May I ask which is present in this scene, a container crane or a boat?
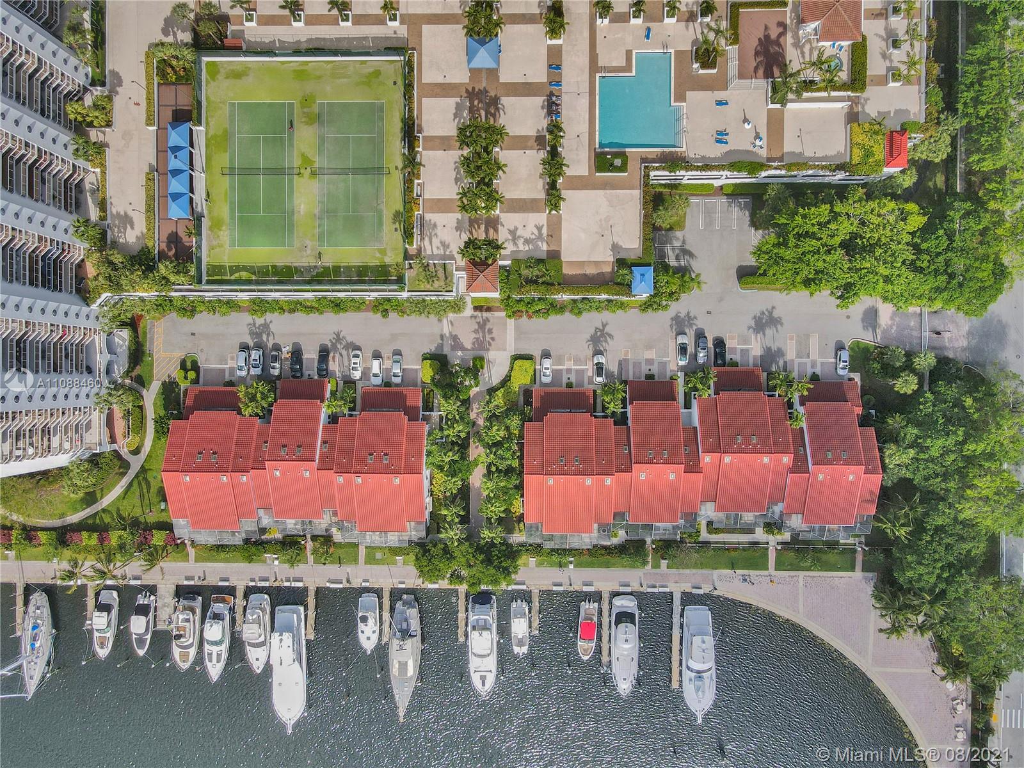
boat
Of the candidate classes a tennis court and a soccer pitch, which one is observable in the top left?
tennis court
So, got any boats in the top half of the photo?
No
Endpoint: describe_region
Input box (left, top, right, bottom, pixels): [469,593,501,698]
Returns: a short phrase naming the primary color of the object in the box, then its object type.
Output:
white boat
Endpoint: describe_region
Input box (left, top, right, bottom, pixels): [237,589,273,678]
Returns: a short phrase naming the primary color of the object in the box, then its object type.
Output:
white boat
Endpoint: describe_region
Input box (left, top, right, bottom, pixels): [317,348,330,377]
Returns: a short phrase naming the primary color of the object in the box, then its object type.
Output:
black vehicle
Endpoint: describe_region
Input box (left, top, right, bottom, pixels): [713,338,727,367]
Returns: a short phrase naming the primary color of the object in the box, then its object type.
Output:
black car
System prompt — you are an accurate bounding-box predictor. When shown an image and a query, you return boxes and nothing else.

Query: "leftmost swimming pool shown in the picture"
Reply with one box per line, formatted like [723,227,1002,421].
[596,46,688,150]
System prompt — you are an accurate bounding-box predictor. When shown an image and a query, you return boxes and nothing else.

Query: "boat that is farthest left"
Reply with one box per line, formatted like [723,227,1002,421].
[0,582,54,700]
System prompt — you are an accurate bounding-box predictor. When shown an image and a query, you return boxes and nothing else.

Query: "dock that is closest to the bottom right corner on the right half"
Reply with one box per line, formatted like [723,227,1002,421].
[669,590,684,691]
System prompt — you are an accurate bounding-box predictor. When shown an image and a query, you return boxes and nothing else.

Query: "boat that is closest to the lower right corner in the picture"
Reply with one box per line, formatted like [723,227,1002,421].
[683,604,726,734]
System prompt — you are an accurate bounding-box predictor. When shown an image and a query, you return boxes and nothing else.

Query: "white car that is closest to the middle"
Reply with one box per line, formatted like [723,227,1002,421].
[540,355,553,383]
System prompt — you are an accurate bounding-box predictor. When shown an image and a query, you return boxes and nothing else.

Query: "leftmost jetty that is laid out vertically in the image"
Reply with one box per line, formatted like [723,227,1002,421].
[9,584,30,640]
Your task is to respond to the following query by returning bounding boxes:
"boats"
[389,586,421,728]
[171,590,208,672]
[611,593,640,698]
[683,604,726,734]
[201,590,235,684]
[85,585,129,661]
[510,600,529,657]
[270,600,309,742]
[120,586,158,665]
[469,593,501,698]
[578,601,599,661]
[0,582,54,700]
[346,585,383,672]
[237,589,273,678]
